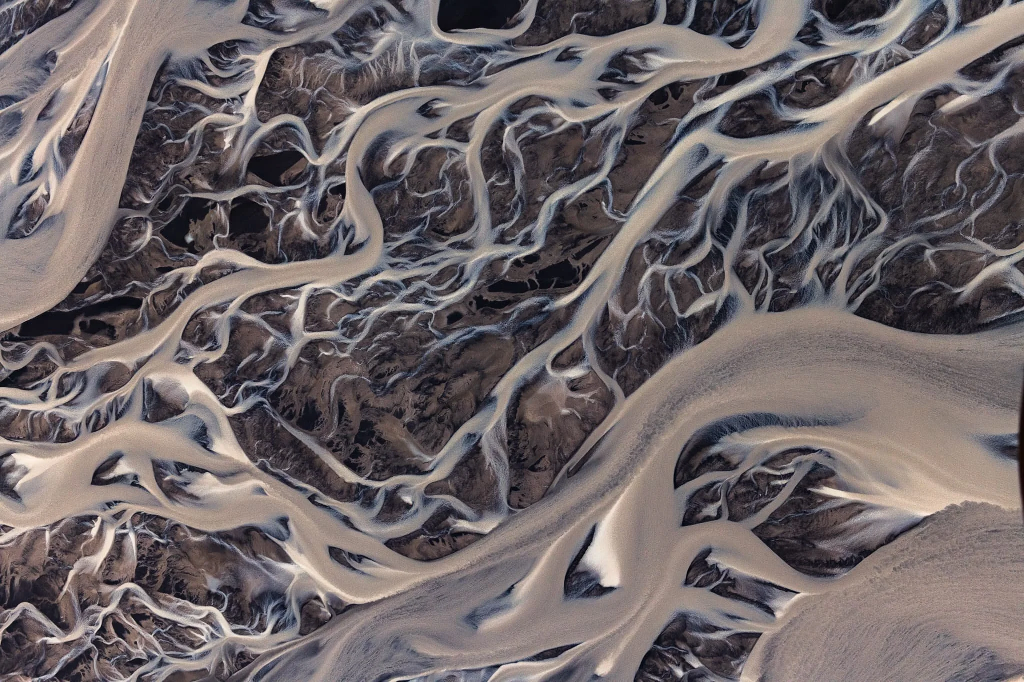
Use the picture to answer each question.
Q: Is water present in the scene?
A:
Yes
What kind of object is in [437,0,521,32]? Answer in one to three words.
pond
